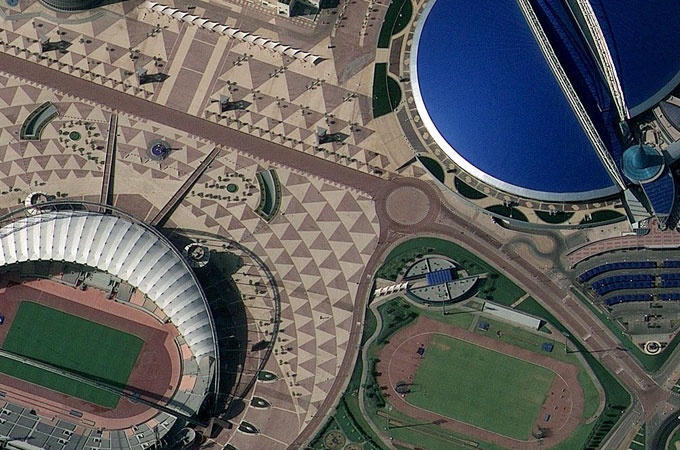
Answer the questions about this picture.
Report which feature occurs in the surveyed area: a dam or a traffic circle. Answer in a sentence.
Looking from above, you can make out a traffic circle.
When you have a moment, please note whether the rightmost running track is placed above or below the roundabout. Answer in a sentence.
From this view, the rightmost running track can be seen below the roundabout.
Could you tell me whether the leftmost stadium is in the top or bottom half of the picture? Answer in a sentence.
You can find the leftmost stadium in the bottom half.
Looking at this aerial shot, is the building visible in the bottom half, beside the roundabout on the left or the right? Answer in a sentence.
It is on the right.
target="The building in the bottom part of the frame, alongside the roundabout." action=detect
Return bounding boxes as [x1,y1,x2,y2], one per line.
[403,258,482,309]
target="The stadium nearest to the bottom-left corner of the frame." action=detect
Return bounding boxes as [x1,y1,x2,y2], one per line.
[0,199,228,450]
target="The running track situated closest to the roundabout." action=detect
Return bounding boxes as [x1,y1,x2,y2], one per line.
[377,317,586,450]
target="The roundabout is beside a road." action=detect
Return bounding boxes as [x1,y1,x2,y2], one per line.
[375,171,442,238]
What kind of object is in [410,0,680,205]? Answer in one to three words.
building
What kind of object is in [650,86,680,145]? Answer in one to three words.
building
